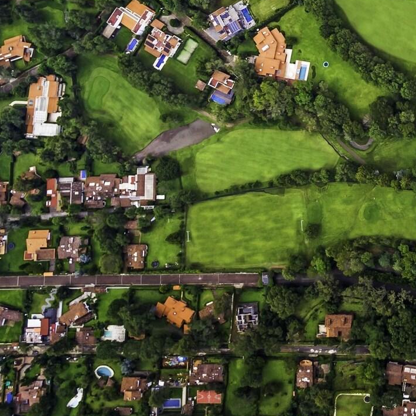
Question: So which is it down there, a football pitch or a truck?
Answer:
football pitch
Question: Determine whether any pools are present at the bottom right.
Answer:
No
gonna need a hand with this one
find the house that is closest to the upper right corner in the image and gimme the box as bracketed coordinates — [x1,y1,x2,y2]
[254,22,302,79]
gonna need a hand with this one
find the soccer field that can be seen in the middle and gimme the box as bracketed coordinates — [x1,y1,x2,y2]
[190,195,301,264]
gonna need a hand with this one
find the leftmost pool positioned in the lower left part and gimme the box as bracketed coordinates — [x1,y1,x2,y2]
[67,391,83,409]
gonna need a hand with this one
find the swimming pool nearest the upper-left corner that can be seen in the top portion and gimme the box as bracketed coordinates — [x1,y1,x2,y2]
[124,35,139,54]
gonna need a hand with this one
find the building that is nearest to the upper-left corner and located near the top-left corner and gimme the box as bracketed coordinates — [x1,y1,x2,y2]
[0,35,36,68]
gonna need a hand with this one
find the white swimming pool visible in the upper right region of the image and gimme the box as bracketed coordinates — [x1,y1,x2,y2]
[295,60,311,81]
